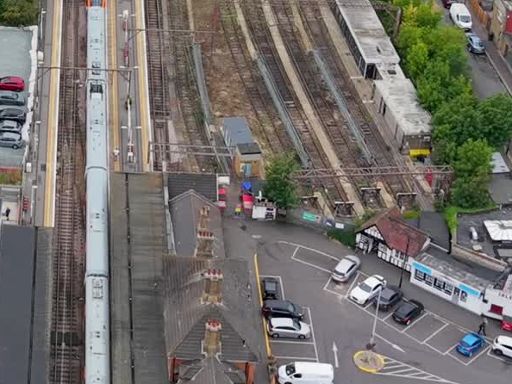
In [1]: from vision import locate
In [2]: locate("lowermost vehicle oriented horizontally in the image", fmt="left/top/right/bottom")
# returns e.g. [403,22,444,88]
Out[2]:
[279,360,335,384]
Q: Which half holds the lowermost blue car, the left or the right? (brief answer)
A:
right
